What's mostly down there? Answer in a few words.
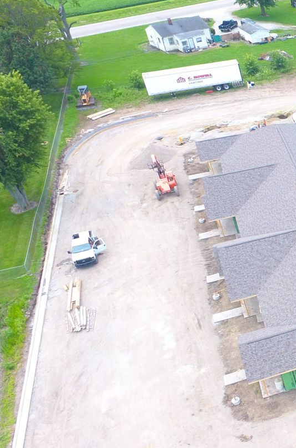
paved ground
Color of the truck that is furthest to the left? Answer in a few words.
white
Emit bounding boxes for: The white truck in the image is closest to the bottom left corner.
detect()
[68,226,106,269]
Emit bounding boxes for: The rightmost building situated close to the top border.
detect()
[236,16,270,44]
